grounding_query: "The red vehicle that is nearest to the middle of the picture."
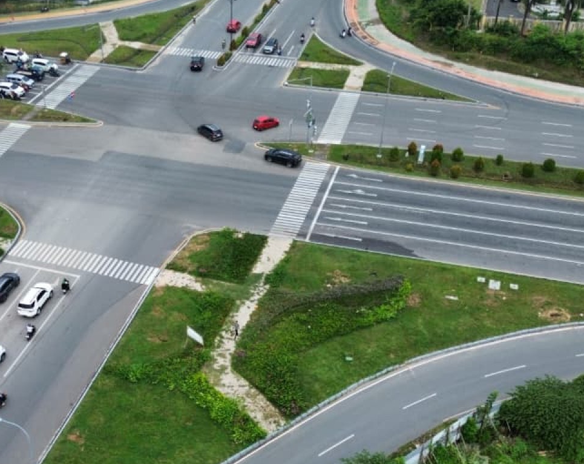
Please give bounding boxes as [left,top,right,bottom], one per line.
[251,117,280,133]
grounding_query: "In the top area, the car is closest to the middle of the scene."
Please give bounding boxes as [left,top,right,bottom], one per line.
[264,149,303,169]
